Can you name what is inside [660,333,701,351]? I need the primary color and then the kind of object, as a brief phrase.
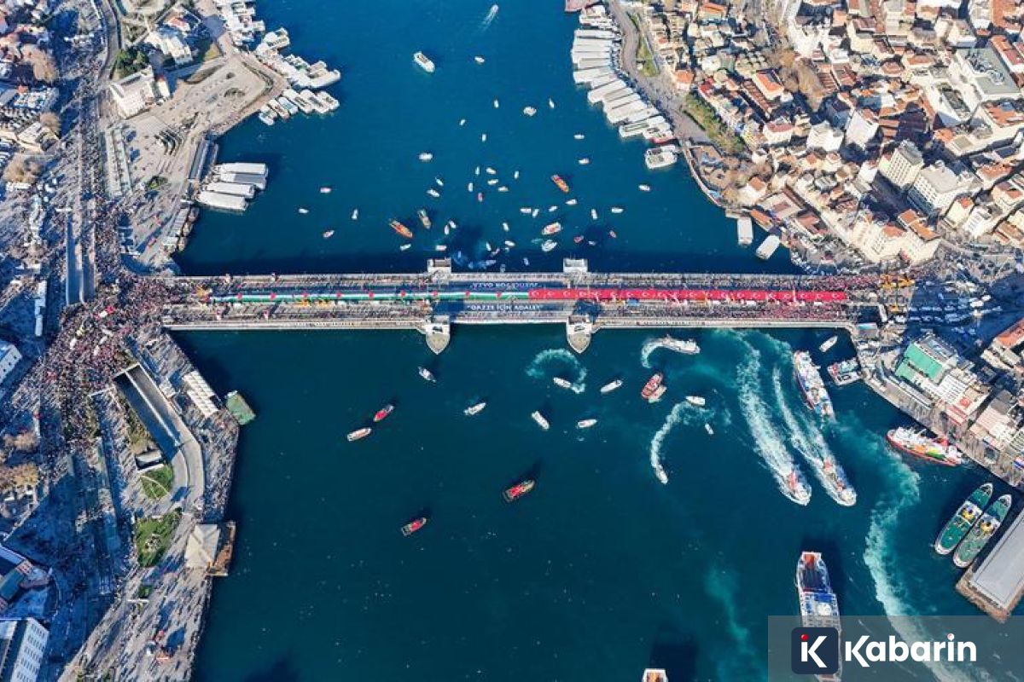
white ship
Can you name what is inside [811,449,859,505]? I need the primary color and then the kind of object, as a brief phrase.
white ship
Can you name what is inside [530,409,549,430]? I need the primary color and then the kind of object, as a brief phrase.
white boat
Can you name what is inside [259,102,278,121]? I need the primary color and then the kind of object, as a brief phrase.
white boat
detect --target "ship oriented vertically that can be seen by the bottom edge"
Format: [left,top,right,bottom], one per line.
[798,549,844,682]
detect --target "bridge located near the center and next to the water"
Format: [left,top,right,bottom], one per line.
[167,255,857,356]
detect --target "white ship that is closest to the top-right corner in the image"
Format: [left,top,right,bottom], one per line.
[755,233,784,262]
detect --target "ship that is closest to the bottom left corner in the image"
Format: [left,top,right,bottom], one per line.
[222,388,256,427]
